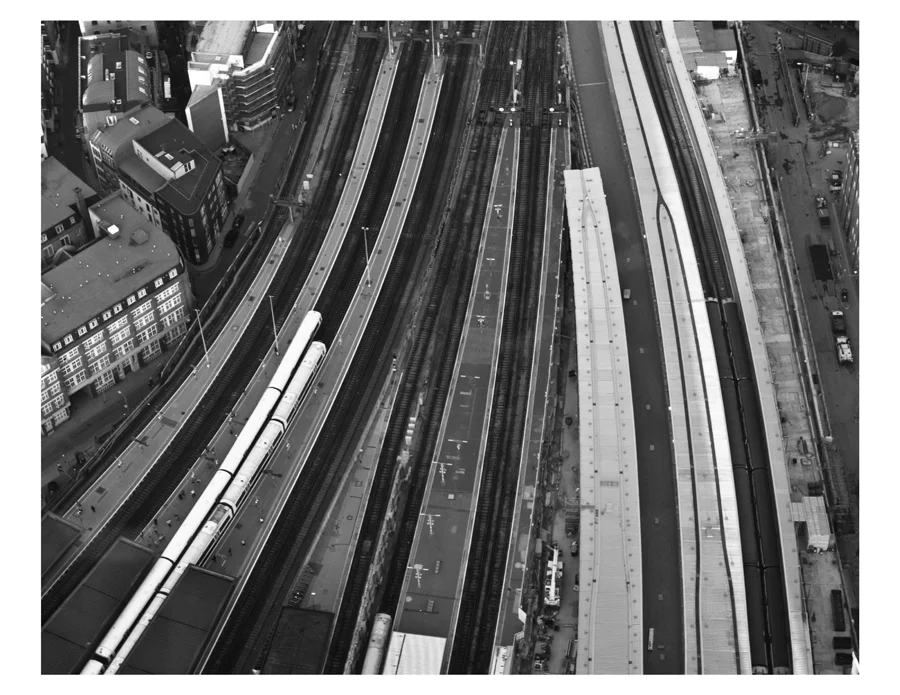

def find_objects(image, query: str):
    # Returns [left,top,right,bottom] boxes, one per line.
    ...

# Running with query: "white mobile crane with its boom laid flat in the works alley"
[538,525,567,611]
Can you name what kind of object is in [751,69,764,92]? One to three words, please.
vehicle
